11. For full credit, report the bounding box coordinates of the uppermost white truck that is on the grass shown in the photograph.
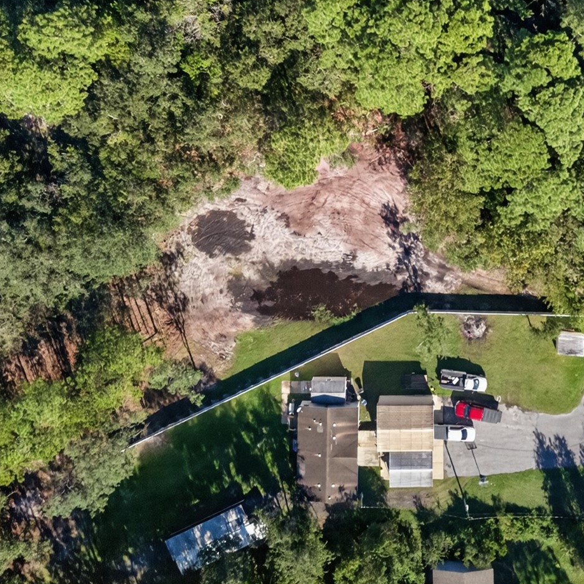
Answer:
[438,372,488,396]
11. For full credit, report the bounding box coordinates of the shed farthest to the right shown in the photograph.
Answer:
[556,330,584,355]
